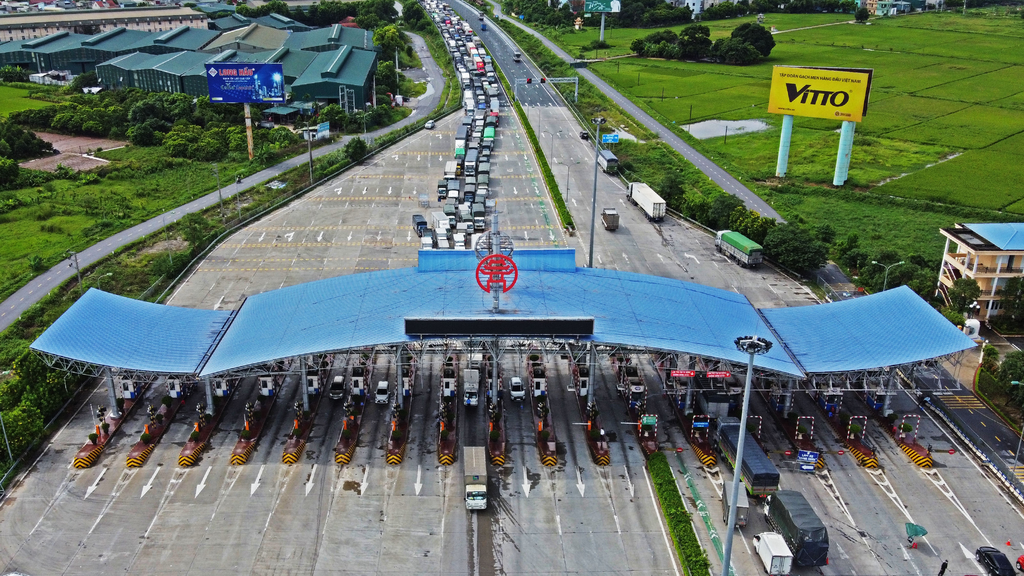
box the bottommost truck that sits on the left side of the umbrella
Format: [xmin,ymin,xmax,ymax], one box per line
[751,523,795,571]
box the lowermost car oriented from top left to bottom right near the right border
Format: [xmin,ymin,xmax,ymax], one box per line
[975,537,1024,574]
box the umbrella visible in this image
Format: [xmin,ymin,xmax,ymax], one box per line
[901,516,929,538]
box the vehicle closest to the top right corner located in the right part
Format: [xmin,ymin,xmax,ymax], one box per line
[712,231,761,265]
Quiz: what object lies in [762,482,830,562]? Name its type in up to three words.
truck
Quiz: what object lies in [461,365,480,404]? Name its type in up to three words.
vehicle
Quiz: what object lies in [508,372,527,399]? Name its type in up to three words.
car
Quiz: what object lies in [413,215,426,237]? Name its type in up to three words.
vehicle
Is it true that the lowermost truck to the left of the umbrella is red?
No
